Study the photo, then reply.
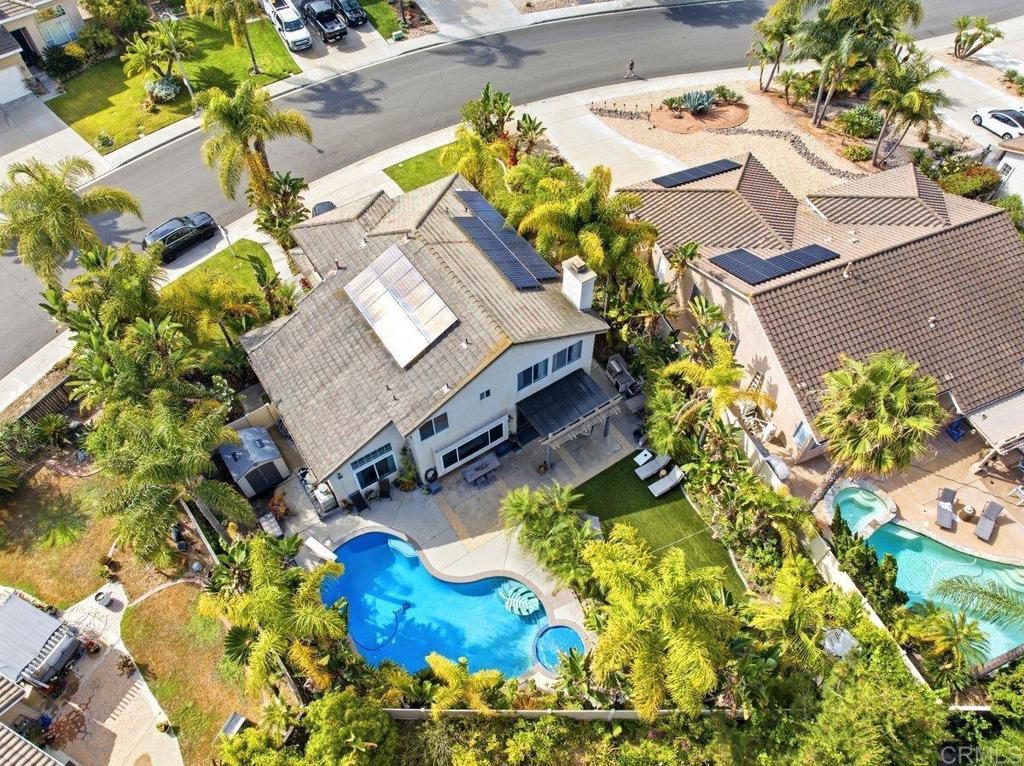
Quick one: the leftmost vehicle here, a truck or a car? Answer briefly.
car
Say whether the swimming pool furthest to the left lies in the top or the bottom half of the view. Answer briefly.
bottom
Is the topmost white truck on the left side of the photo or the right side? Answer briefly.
left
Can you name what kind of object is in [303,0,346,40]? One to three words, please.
truck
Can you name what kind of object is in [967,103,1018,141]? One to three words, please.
car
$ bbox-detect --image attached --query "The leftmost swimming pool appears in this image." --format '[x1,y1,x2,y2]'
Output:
[316,527,552,687]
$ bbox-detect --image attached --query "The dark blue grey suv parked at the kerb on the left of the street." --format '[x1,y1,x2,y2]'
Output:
[140,210,218,264]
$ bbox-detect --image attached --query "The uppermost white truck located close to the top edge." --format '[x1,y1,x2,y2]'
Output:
[267,3,311,50]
